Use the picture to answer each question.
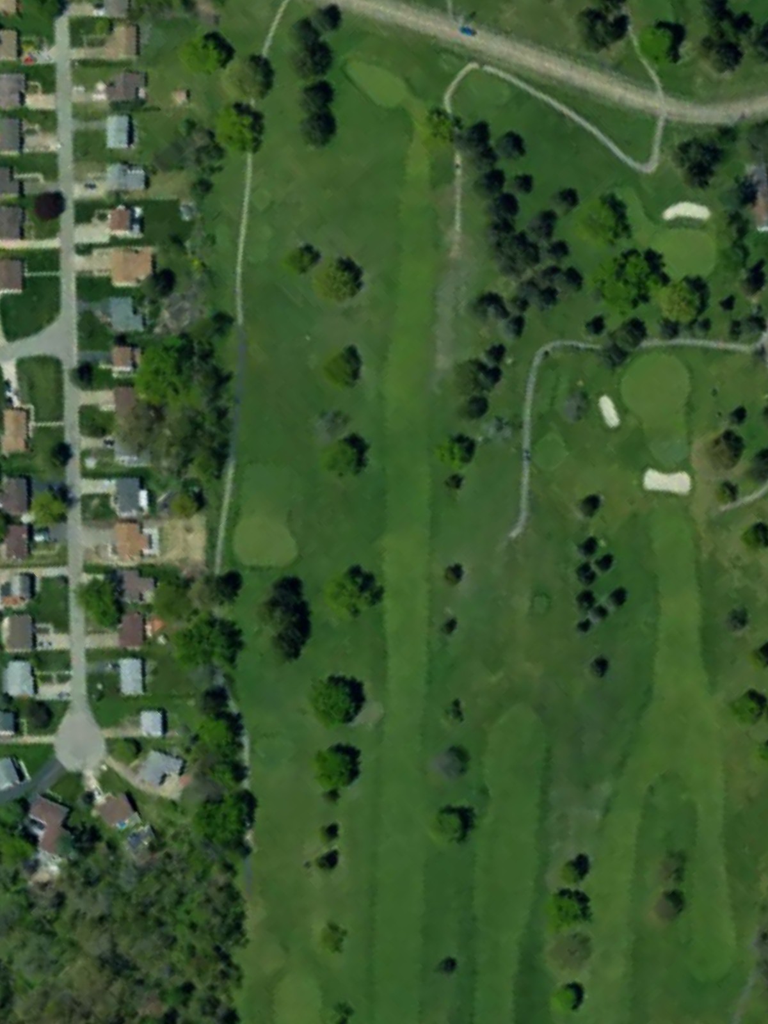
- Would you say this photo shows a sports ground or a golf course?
golf course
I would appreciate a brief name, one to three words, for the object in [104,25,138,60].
house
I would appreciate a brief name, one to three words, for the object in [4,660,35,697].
house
